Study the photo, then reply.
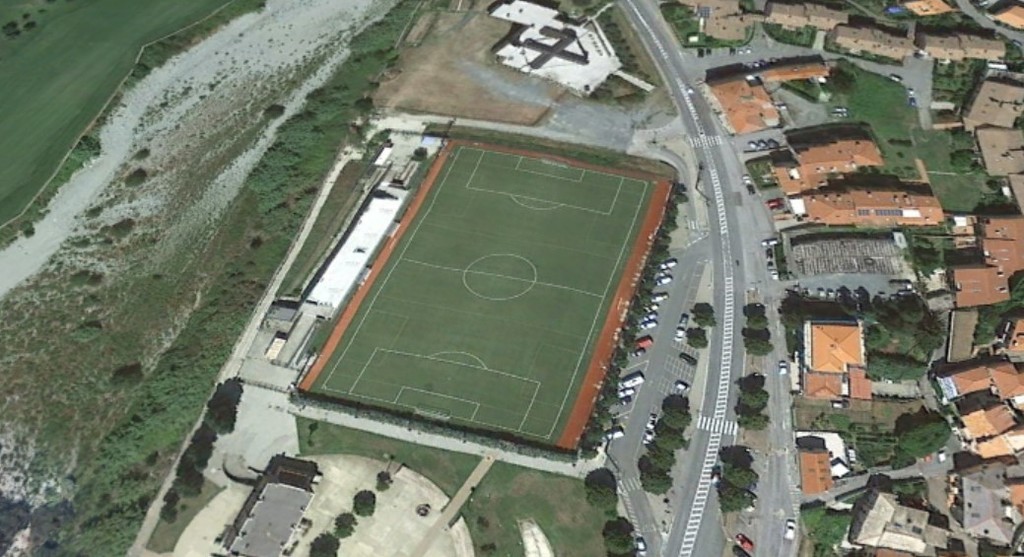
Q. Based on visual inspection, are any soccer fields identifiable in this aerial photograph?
Yes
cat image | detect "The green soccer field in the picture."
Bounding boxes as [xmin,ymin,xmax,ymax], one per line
[298,138,674,452]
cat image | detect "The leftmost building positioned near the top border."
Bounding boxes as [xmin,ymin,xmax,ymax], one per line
[486,0,620,99]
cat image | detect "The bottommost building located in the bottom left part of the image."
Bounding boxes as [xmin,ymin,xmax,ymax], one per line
[228,459,316,557]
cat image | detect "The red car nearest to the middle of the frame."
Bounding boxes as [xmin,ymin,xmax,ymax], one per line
[636,335,654,347]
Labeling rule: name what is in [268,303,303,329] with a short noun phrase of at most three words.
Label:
building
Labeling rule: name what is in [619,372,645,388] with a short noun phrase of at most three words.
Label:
vehicle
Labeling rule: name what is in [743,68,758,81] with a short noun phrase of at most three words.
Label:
vehicle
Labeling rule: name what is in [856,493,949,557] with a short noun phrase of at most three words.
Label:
house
